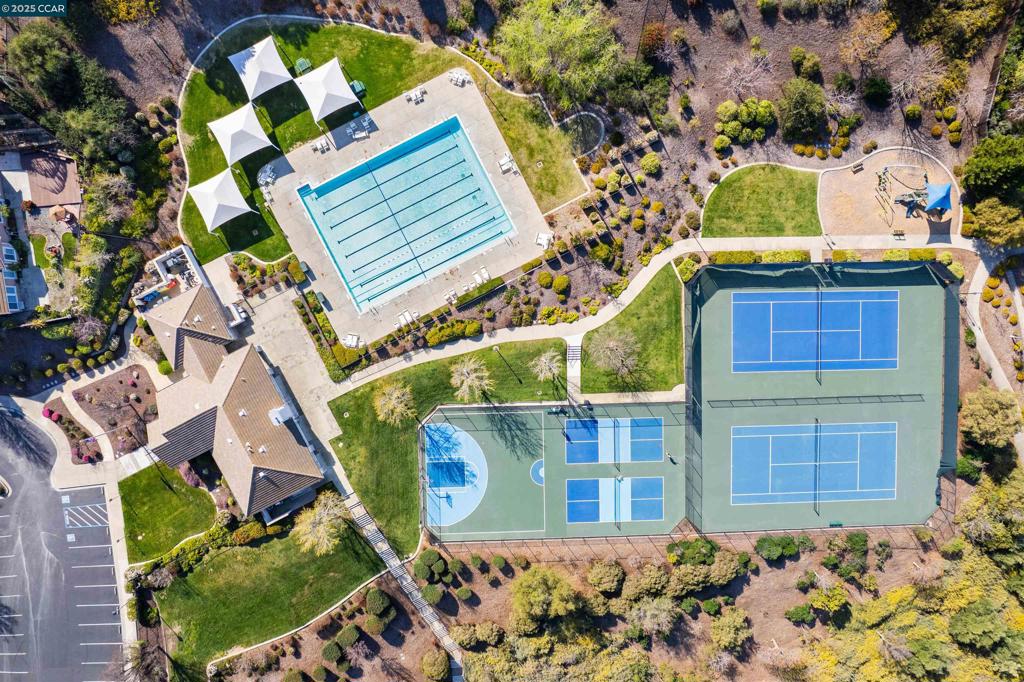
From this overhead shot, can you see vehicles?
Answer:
No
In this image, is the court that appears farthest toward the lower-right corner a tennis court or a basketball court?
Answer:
tennis court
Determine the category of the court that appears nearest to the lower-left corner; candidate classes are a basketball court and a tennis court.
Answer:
basketball court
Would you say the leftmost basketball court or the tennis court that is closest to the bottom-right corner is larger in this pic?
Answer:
the tennis court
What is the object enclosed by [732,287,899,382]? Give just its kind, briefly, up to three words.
tennis court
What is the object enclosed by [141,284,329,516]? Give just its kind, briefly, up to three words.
building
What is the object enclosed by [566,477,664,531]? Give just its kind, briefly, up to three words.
sports court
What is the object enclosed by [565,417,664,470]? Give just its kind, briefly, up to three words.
sports court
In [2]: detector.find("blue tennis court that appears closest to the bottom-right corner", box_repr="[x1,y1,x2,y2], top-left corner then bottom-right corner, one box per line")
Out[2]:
[731,419,897,516]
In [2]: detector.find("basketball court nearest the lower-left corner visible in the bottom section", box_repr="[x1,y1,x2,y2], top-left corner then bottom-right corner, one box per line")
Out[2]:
[426,412,545,534]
